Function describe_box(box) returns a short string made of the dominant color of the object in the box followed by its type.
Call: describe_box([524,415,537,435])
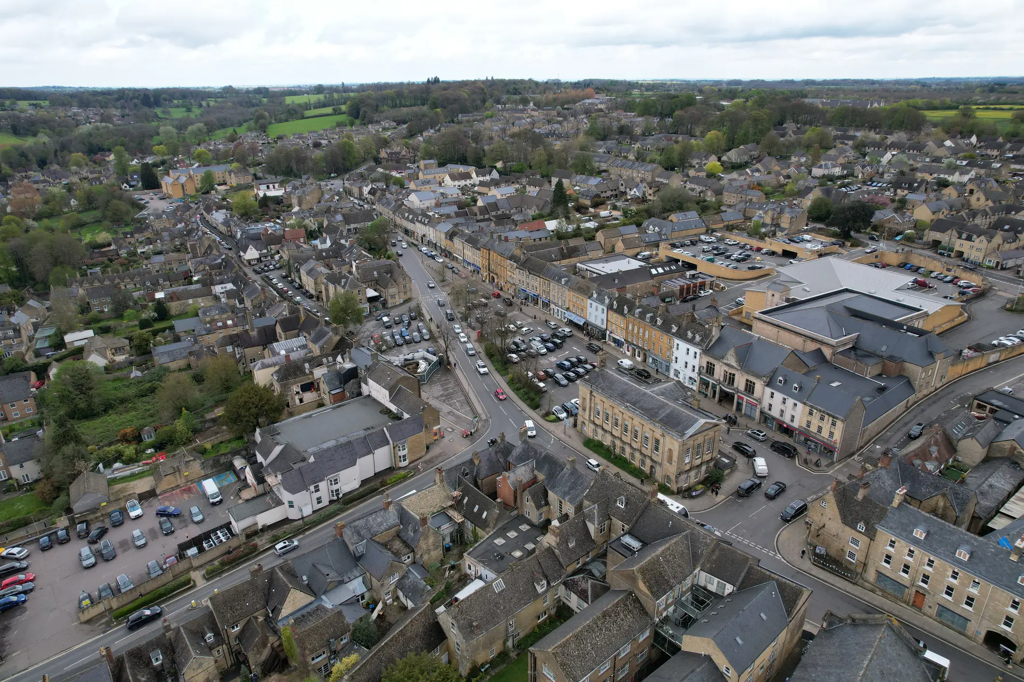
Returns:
white vehicle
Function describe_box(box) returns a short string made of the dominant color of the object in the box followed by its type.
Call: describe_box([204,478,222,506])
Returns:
white vehicle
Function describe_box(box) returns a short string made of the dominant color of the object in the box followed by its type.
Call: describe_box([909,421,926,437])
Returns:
gray car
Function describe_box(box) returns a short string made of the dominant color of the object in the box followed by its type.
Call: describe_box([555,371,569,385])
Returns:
gray car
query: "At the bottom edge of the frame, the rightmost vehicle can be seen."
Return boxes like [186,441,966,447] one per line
[914,646,966,682]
